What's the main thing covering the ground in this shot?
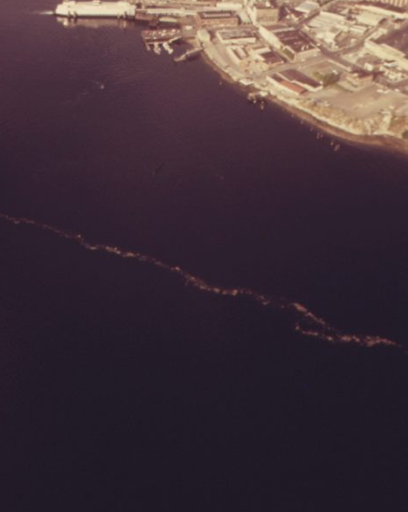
water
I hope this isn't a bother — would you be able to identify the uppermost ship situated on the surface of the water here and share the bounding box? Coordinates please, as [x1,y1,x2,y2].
[55,2,135,20]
